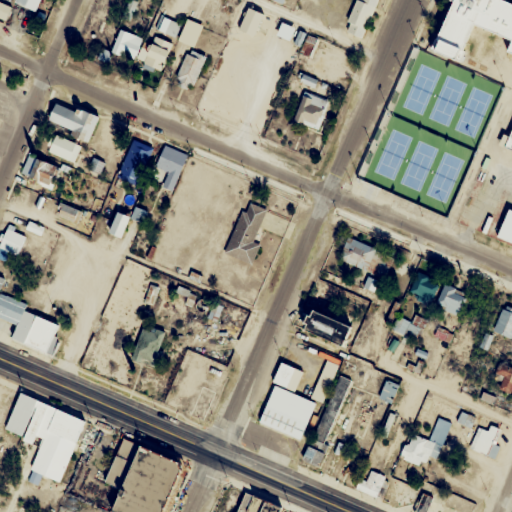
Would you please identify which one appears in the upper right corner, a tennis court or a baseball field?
tennis court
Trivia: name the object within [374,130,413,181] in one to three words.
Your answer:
tennis court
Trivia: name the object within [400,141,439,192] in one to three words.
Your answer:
tennis court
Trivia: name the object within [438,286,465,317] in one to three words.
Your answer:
house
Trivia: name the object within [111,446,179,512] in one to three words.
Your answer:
building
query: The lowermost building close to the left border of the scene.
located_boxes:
[4,394,85,485]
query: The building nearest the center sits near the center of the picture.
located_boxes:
[225,202,267,260]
